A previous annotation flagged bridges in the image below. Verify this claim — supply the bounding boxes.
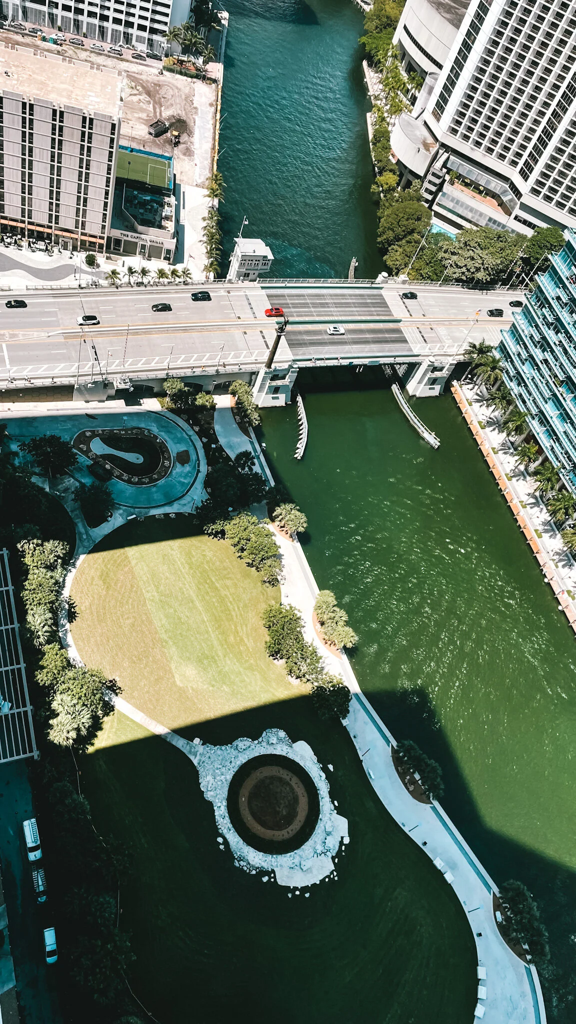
[0,278,545,415]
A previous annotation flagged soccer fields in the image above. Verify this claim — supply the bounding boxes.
[115,136,176,197]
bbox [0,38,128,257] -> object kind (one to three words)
building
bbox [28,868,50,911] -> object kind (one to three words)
truck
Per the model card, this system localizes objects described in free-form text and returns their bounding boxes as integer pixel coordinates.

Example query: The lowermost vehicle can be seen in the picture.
[41,923,60,969]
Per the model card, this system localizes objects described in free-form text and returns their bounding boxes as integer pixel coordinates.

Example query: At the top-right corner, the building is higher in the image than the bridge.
[385,0,576,275]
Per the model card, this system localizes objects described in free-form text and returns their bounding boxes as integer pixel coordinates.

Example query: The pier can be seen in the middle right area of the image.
[451,387,576,641]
